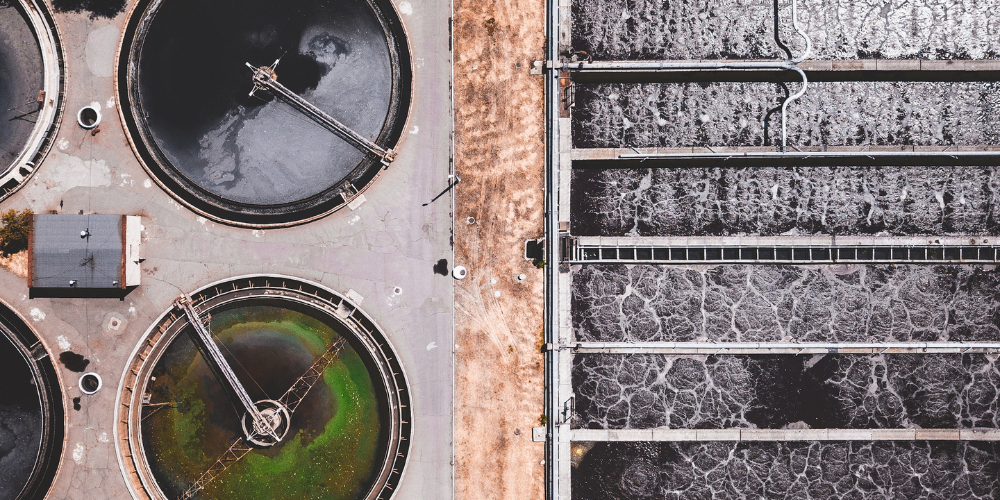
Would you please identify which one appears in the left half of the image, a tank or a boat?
tank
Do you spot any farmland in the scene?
No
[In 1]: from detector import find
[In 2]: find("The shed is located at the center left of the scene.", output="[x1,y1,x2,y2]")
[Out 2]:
[22,214,143,290]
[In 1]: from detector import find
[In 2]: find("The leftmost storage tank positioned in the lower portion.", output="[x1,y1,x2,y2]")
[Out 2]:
[0,300,67,500]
